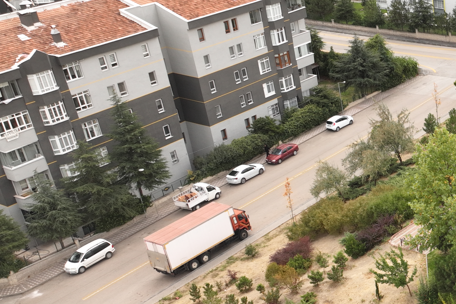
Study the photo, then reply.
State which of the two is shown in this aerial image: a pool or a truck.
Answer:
truck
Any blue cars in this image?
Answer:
No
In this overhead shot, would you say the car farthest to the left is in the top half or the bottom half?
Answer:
bottom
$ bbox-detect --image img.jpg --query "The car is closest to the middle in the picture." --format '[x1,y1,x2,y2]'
[225,165,266,185]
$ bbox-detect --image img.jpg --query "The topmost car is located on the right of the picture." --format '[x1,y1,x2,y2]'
[324,115,355,132]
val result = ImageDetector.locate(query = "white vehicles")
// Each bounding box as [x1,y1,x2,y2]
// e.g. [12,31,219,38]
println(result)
[225,165,266,185]
[137,206,250,279]
[324,115,355,132]
[60,240,115,276]
[165,181,224,211]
